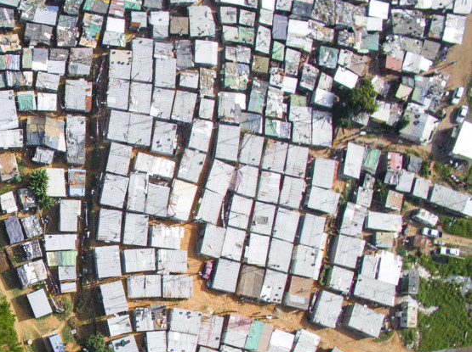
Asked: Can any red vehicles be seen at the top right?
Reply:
No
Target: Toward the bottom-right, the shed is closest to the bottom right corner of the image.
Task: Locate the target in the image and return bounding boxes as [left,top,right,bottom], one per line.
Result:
[400,304,418,327]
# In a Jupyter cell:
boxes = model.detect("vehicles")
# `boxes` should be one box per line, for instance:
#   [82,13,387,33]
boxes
[447,84,465,107]
[202,277,212,290]
[411,209,442,227]
[453,103,469,125]
[201,261,213,280]
[437,247,460,256]
[419,227,442,238]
